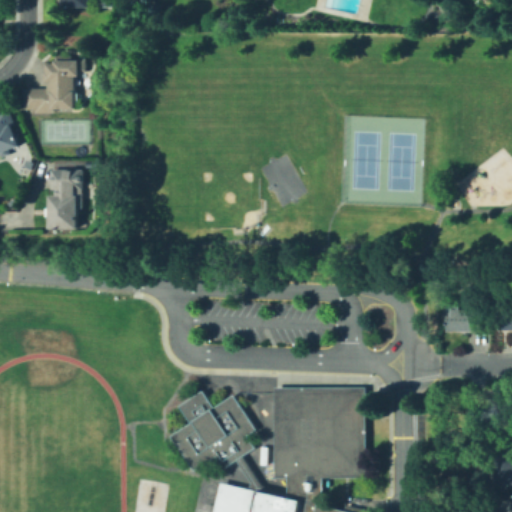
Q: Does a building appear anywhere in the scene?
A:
Yes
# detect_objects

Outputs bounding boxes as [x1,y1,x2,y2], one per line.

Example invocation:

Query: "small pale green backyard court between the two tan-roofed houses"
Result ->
[42,120,92,143]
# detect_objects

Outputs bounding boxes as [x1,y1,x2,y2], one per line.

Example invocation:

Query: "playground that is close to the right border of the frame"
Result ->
[467,148,512,208]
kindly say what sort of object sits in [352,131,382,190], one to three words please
tennis court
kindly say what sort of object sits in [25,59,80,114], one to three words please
house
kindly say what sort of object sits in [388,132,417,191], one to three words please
tennis court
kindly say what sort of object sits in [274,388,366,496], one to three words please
building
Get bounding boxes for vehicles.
[475,334,480,346]
[38,162,45,177]
[482,334,487,346]
[392,342,402,352]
